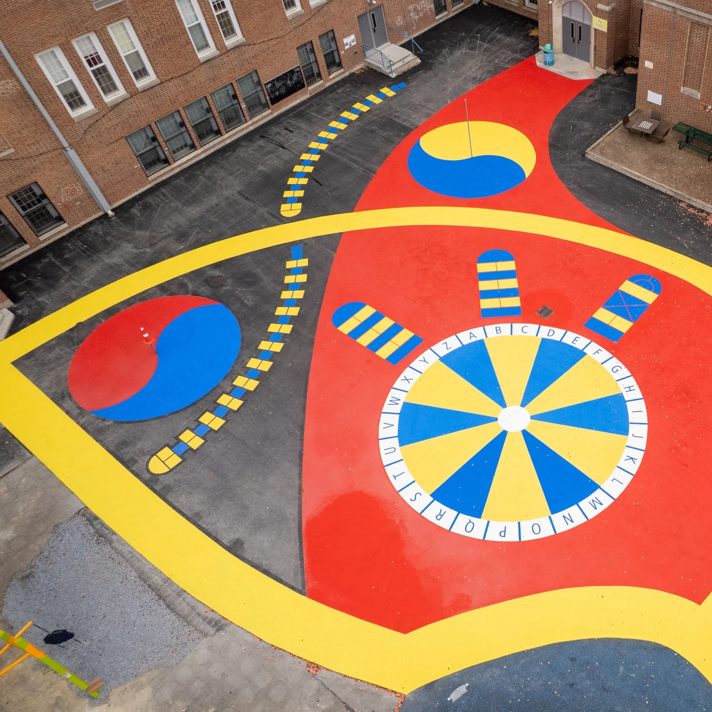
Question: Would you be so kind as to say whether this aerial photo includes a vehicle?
No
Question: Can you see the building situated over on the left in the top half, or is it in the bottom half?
top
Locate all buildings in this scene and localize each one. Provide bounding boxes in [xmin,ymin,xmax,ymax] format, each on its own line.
[0,0,539,310]
[636,0,712,132]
